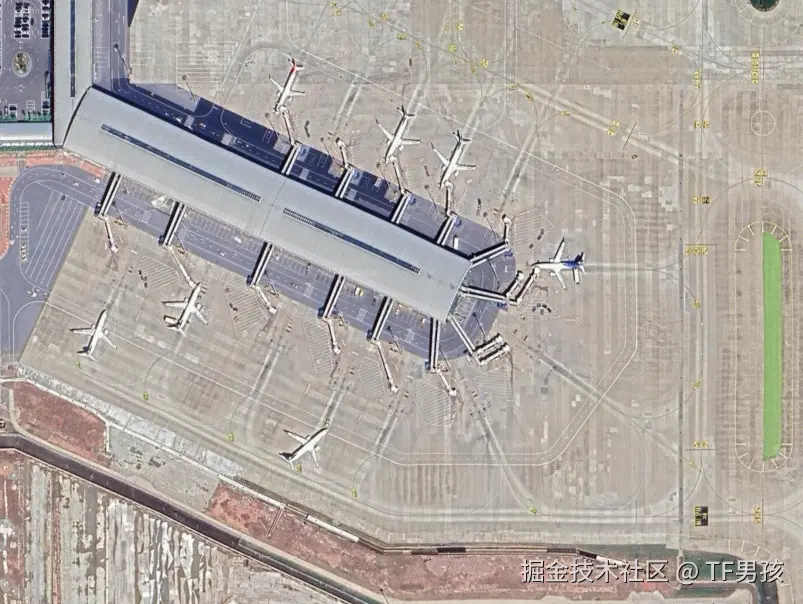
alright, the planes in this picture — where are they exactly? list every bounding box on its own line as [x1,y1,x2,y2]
[281,429,328,471]
[70,310,117,360]
[162,284,209,334]
[532,238,586,290]
[374,107,423,162]
[428,133,480,188]
[265,60,311,111]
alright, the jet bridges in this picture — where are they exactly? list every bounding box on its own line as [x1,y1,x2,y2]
[424,317,456,395]
[279,104,306,176]
[336,139,360,200]
[390,155,415,225]
[246,241,277,313]
[459,267,540,309]
[318,273,347,353]
[437,181,461,246]
[470,217,512,269]
[159,202,197,289]
[95,173,124,253]
[366,297,398,392]
[449,315,511,366]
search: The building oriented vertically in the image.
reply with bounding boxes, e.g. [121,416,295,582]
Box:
[53,0,92,146]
